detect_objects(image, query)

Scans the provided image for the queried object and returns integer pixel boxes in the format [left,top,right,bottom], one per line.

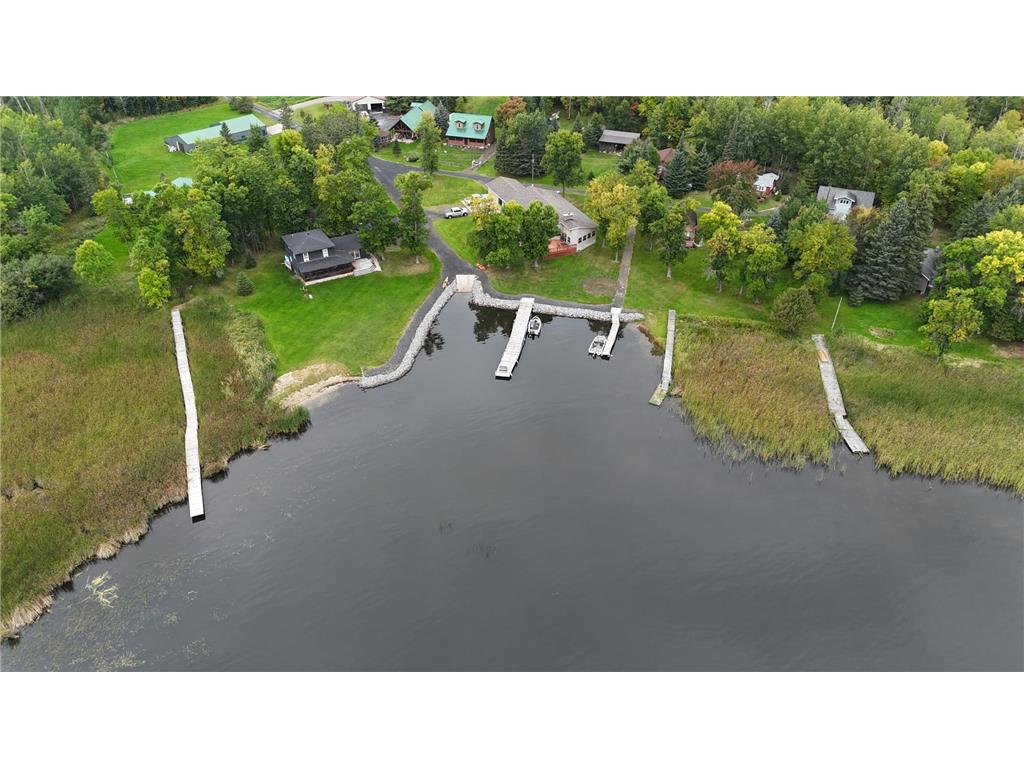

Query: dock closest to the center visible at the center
[496,297,535,380]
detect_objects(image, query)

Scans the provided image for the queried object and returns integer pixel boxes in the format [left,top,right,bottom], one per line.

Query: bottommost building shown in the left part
[284,230,372,285]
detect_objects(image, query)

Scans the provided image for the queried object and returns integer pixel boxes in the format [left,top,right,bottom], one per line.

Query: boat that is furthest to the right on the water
[588,335,603,357]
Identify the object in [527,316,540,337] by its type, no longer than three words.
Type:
boat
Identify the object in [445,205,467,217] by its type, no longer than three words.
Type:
vehicle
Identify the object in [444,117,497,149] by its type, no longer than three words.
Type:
building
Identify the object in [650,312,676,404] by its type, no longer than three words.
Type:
pier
